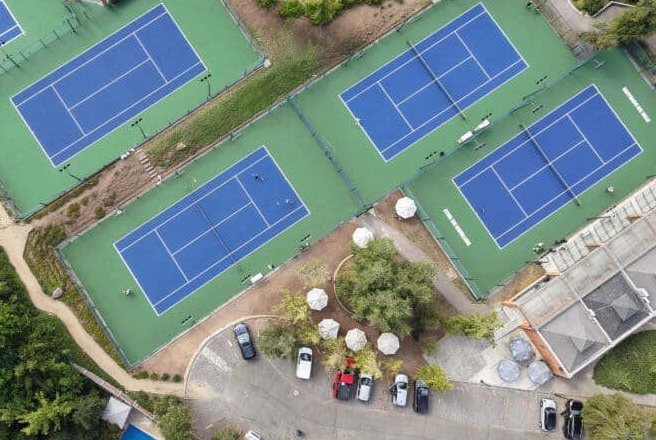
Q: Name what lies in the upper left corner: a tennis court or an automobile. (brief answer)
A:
tennis court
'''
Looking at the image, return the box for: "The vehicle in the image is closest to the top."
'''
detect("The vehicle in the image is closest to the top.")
[234,322,256,361]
